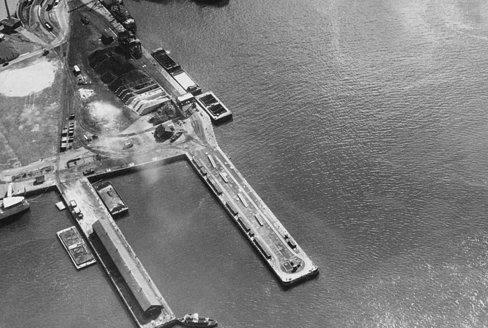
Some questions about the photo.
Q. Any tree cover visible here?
No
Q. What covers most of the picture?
water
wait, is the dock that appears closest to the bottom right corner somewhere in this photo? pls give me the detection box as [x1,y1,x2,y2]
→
[184,150,319,287]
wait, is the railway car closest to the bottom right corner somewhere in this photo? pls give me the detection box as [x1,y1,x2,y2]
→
[283,231,298,249]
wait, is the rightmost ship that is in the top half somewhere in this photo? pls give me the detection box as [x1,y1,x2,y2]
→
[195,89,231,123]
